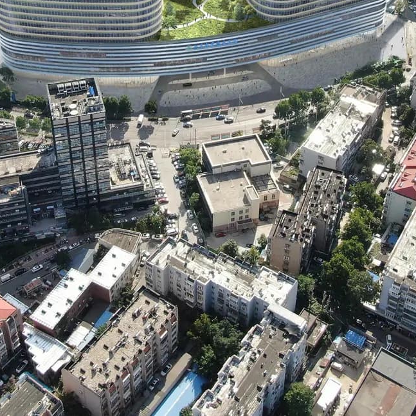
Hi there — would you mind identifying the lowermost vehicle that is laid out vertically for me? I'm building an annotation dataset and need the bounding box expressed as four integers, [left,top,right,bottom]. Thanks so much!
[325,373,340,408]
